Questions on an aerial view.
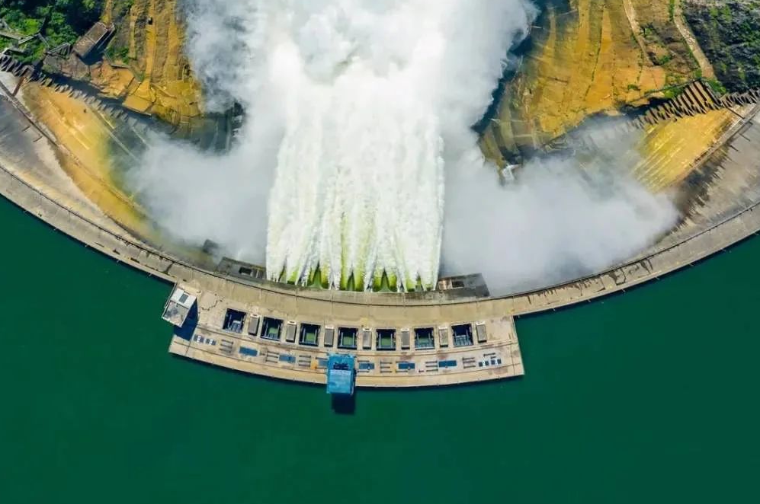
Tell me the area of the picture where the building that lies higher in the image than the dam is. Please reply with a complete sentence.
The building that lies higher in the image than the dam is in the top left part of the image.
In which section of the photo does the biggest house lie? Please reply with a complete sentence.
Look in the left portion of the view to spot the biggest house.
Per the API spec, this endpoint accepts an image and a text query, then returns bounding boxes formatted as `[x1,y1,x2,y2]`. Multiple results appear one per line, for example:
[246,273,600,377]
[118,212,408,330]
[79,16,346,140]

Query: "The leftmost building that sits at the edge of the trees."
[73,21,111,57]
